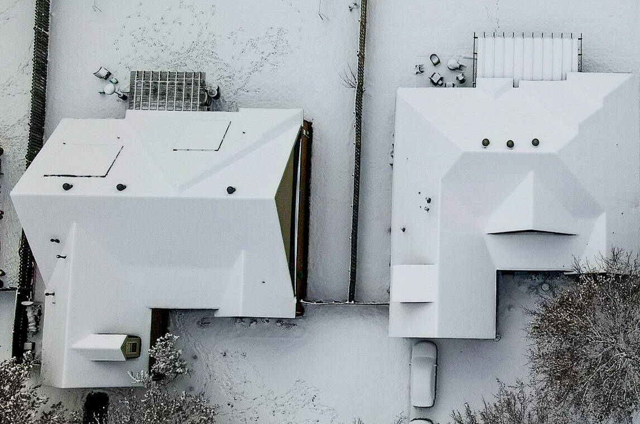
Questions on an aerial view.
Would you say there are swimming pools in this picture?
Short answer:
No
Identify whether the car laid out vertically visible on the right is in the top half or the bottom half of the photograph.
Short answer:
bottom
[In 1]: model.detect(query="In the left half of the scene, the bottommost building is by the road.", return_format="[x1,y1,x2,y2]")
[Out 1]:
[12,108,308,387]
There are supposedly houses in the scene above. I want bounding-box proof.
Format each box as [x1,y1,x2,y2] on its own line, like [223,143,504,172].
[12,108,308,387]
[389,74,640,339]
